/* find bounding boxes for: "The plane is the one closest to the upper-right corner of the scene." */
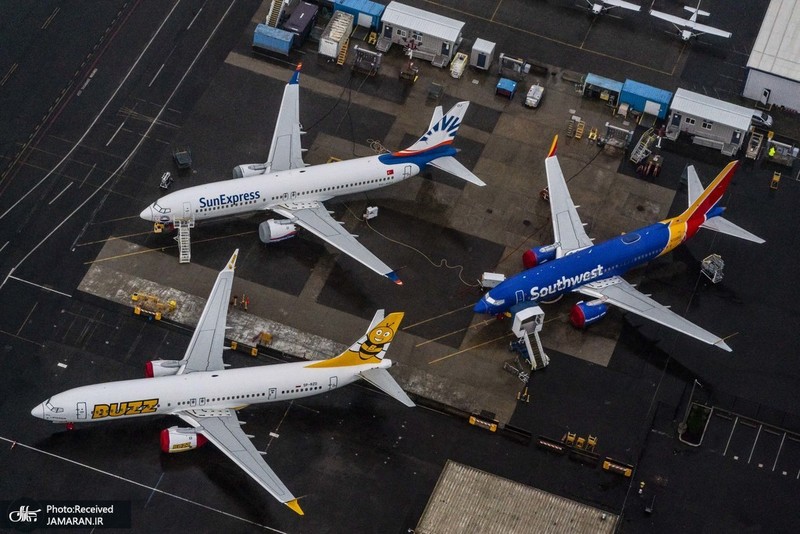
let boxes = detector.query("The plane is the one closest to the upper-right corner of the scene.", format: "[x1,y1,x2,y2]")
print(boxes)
[649,0,733,47]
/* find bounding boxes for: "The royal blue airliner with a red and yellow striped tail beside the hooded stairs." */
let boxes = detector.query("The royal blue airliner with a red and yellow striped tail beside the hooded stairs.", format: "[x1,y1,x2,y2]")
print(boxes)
[473,136,765,353]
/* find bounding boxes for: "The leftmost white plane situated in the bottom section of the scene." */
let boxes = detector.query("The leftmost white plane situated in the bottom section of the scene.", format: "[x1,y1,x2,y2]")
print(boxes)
[32,251,415,516]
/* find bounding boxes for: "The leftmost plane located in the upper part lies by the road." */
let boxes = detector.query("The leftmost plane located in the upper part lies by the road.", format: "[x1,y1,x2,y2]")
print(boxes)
[141,65,486,287]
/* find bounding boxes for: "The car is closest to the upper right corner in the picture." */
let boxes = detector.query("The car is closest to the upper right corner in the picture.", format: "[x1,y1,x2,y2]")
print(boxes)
[746,107,777,130]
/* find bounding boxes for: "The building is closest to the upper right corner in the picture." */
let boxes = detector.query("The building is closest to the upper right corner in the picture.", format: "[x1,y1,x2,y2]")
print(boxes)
[735,0,800,107]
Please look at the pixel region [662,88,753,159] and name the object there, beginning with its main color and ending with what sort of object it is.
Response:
white trailer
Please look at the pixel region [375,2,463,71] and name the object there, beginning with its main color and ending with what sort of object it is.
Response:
white trailer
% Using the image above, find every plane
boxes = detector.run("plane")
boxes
[141,65,486,287]
[649,0,733,47]
[587,0,642,20]
[473,136,765,353]
[32,251,415,516]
